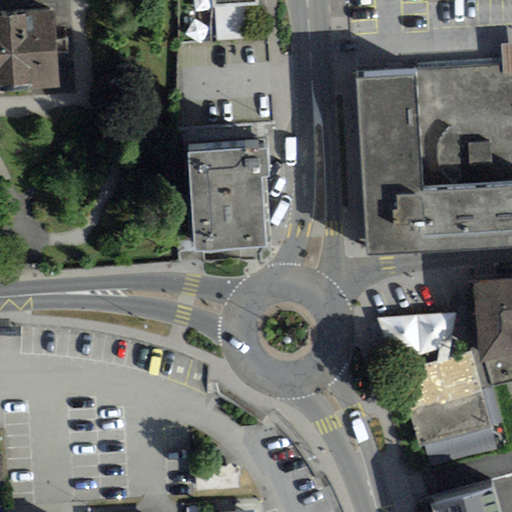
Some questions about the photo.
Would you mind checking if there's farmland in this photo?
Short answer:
No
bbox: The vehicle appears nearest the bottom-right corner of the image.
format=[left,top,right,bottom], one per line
[348,410,368,444]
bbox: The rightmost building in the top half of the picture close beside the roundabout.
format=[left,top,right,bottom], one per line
[358,56,512,254]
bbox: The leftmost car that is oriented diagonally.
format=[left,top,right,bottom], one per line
[229,336,252,354]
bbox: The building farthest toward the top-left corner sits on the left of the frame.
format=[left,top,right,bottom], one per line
[0,10,70,92]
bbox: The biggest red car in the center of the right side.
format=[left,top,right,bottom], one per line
[420,284,435,307]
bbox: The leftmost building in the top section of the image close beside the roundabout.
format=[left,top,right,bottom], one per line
[188,133,274,252]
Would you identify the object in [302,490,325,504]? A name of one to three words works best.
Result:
vehicle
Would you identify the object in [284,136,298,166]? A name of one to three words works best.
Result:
vehicle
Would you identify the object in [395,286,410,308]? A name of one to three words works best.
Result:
car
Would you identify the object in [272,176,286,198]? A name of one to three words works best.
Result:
car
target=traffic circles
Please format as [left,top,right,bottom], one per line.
[220,263,356,398]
